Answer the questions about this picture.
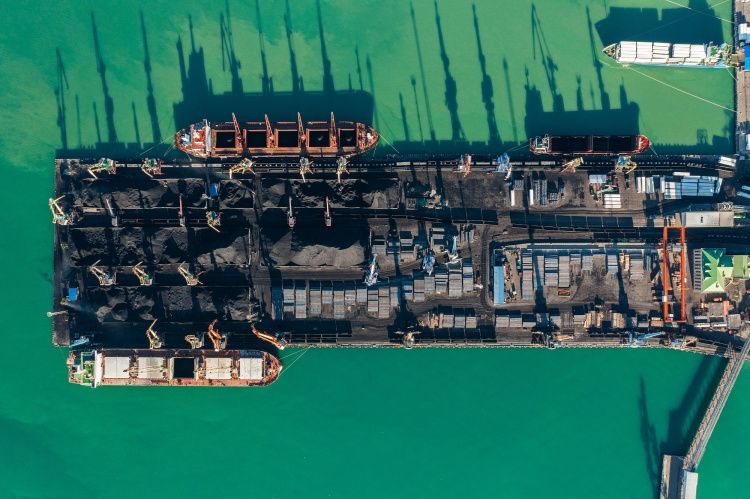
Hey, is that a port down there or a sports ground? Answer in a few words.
port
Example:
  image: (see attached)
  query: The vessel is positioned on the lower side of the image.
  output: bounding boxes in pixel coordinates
[68,349,283,388]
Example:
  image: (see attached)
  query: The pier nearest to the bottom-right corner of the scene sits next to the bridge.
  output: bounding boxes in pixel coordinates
[658,454,698,499]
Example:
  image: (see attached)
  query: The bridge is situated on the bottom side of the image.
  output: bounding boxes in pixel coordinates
[688,319,750,470]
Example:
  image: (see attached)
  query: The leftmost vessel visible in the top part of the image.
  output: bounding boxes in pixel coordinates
[174,112,379,158]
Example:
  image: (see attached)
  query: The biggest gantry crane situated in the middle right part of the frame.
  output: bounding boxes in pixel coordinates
[655,227,686,322]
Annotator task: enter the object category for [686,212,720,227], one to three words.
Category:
building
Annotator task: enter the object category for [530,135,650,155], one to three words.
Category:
ship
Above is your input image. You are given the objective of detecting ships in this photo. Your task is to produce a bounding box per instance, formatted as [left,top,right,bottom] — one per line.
[530,135,650,155]
[68,349,283,388]
[174,112,379,158]
[595,40,735,69]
